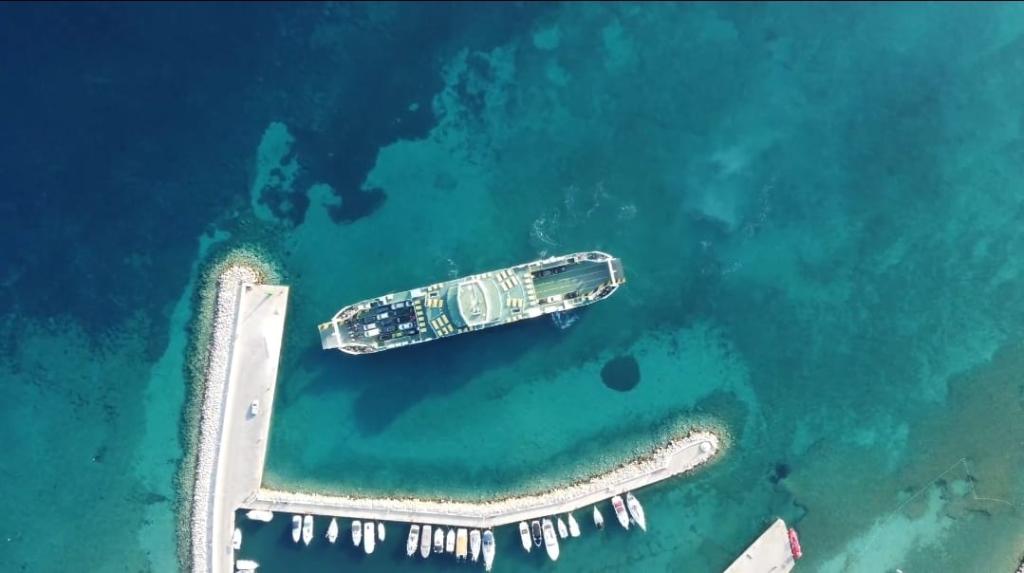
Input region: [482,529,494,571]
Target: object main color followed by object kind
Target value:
white boat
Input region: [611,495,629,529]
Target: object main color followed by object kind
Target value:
white boat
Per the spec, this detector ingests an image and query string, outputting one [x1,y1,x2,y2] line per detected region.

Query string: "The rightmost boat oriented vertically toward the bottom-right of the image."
[789,528,803,560]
